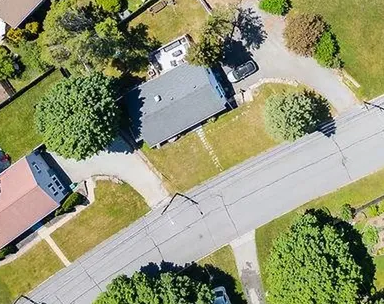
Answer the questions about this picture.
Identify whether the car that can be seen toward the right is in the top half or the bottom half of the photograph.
top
